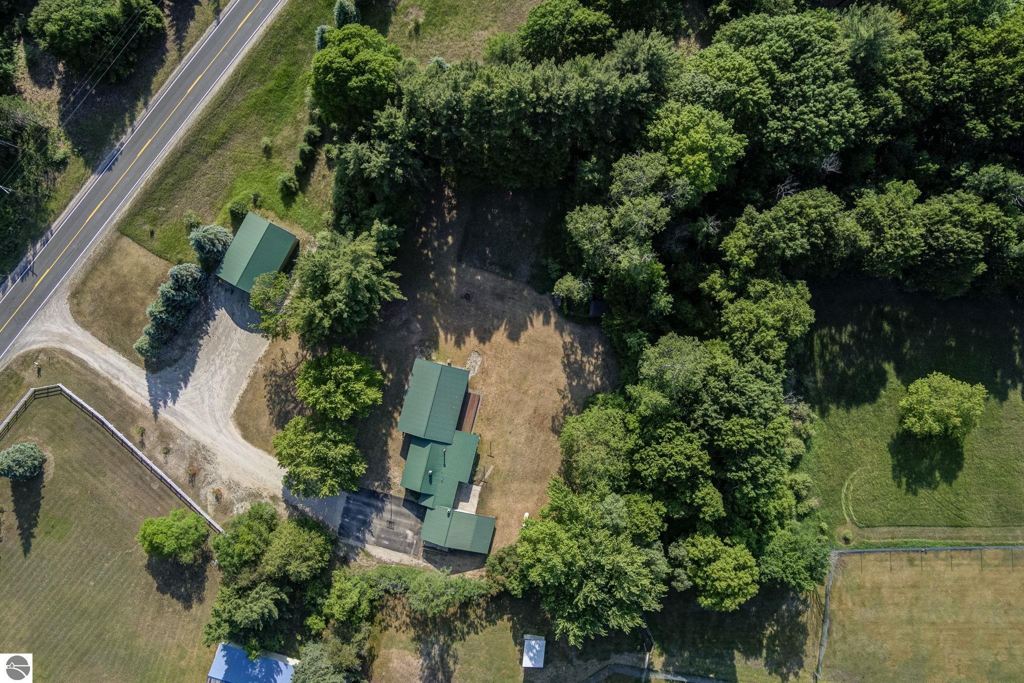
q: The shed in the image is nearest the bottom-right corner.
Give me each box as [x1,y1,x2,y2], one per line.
[523,635,545,668]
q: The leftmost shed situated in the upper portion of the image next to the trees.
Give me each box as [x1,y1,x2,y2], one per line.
[216,211,298,298]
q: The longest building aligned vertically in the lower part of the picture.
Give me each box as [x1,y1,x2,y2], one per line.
[398,358,496,553]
